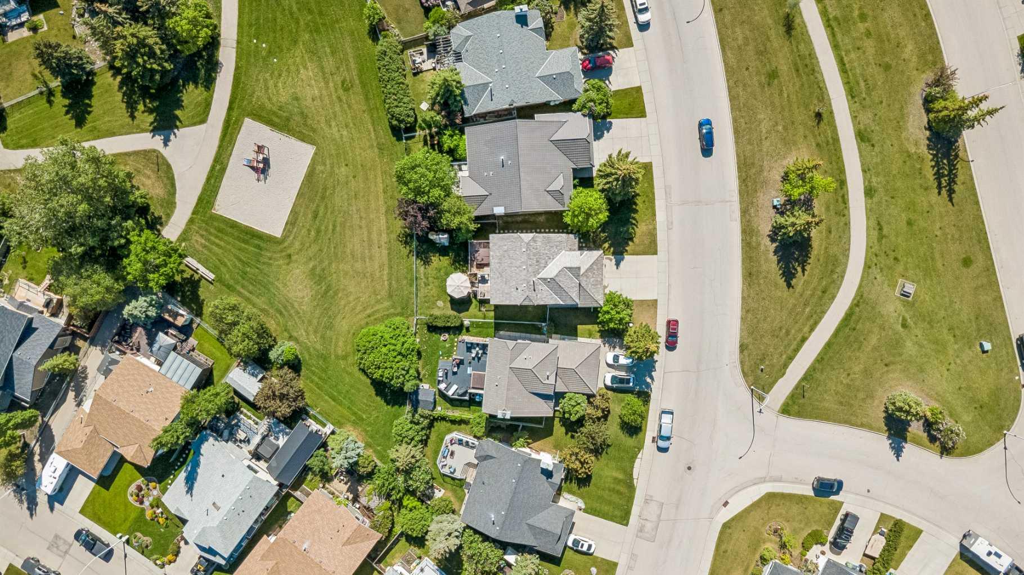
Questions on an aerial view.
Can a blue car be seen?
Yes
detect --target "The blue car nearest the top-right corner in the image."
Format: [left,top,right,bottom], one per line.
[697,119,713,150]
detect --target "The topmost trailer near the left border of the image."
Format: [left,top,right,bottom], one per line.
[40,453,74,493]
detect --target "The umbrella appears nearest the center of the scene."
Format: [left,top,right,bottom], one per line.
[444,272,470,299]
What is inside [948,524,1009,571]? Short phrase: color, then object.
white trailer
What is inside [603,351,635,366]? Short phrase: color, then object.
white car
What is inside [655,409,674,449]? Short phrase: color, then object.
white vehicle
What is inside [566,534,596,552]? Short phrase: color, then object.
white car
